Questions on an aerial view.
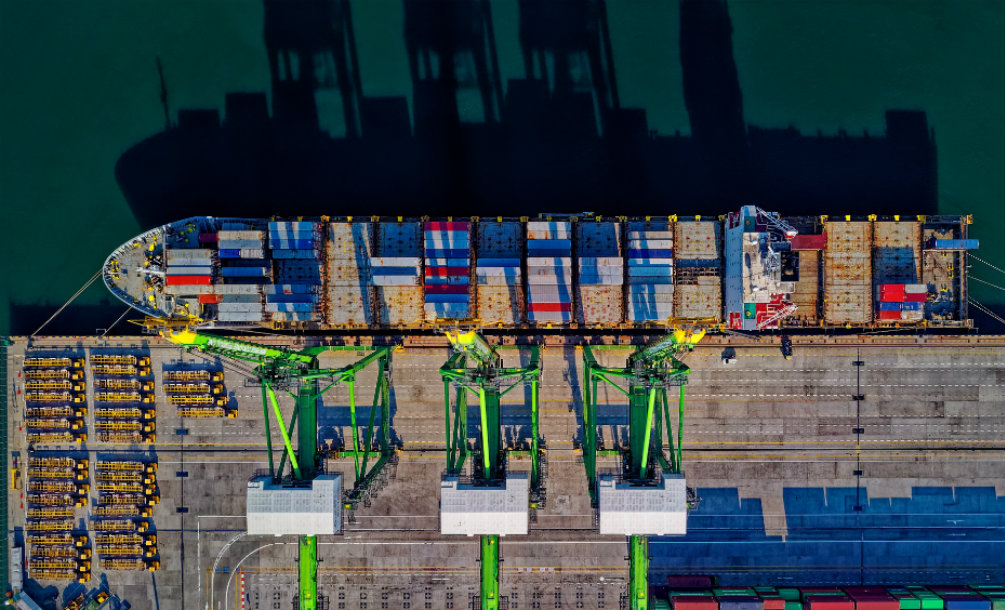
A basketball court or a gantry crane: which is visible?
gantry crane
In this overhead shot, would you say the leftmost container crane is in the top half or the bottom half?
bottom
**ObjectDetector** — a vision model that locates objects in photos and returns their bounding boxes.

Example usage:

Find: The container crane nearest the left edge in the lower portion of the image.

[136,313,408,610]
